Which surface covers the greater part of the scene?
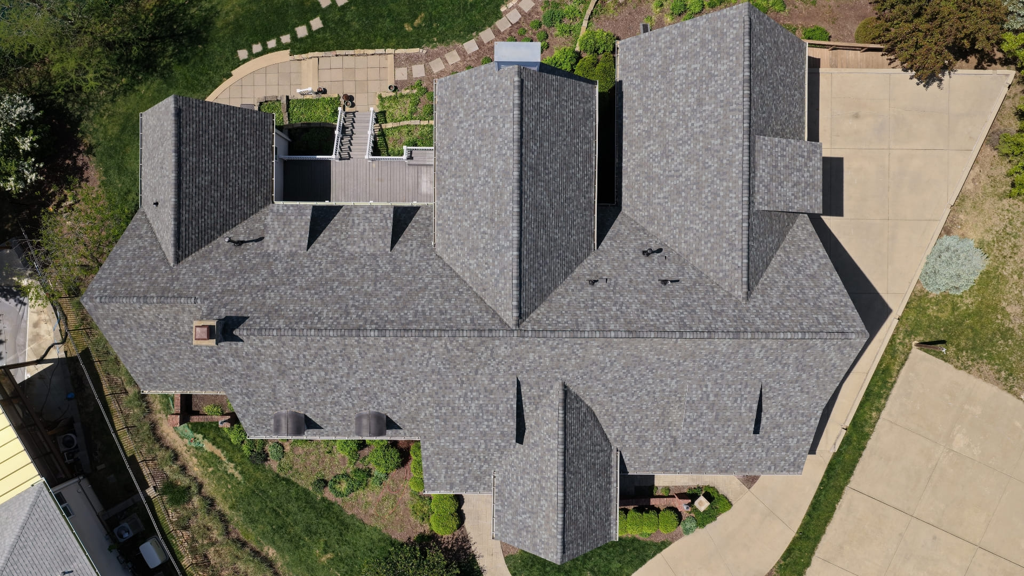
buildings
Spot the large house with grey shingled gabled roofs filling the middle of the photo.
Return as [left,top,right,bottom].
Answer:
[83,3,869,564]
